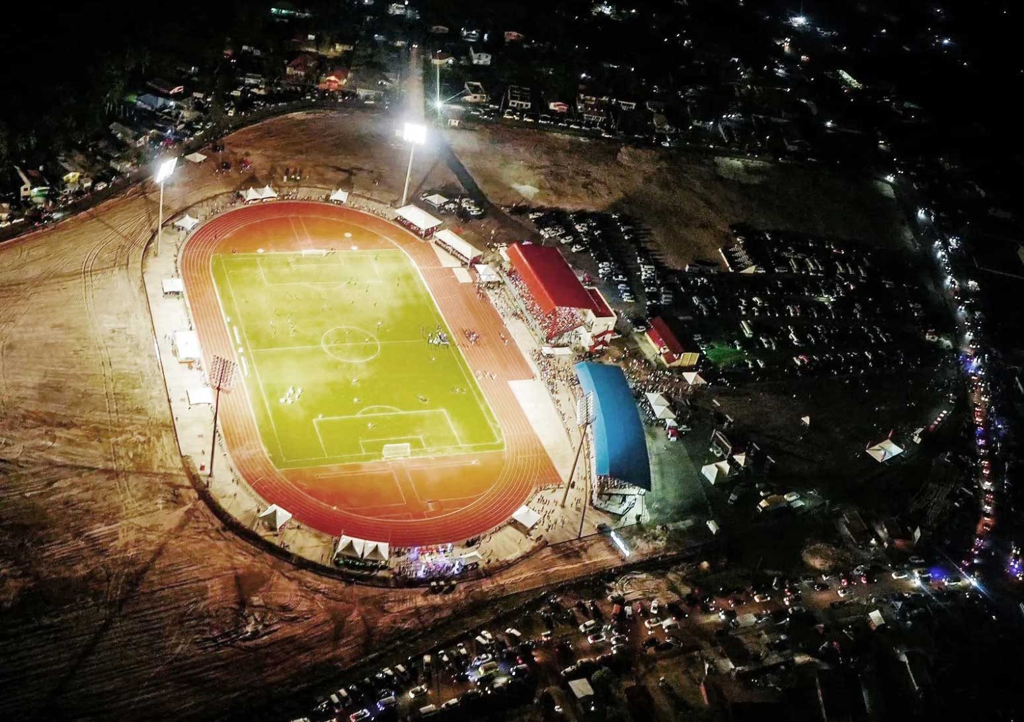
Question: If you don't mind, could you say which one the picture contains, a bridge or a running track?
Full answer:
Of the two, only a running track appears.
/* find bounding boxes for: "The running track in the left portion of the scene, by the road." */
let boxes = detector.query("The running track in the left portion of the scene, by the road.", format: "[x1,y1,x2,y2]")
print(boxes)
[180,201,540,546]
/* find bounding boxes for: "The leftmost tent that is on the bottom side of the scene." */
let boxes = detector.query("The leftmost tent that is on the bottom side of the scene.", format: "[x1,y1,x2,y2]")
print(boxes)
[256,504,294,534]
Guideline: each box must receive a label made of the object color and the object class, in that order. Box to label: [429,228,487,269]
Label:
white tent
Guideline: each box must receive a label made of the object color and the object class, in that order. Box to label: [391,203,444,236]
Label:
white tent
